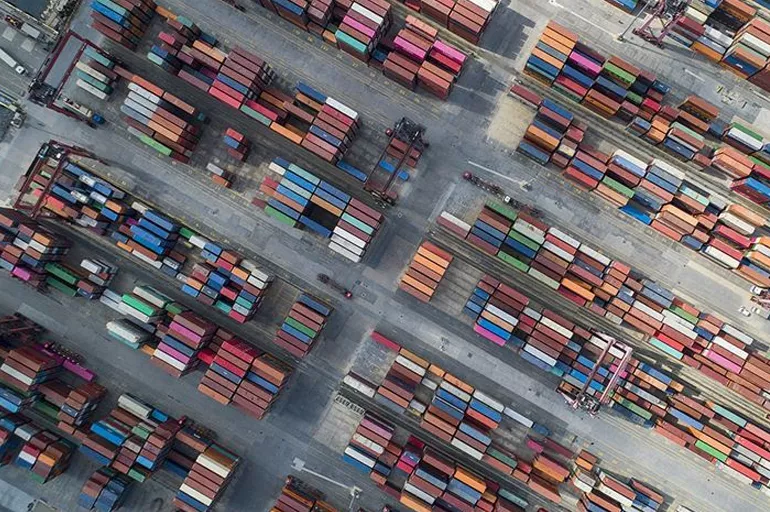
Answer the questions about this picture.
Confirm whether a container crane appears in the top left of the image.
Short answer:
Yes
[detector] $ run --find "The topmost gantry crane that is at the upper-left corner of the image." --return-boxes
[29,26,126,126]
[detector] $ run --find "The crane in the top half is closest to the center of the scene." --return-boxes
[357,113,427,208]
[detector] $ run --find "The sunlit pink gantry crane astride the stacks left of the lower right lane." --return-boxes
[554,328,642,423]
